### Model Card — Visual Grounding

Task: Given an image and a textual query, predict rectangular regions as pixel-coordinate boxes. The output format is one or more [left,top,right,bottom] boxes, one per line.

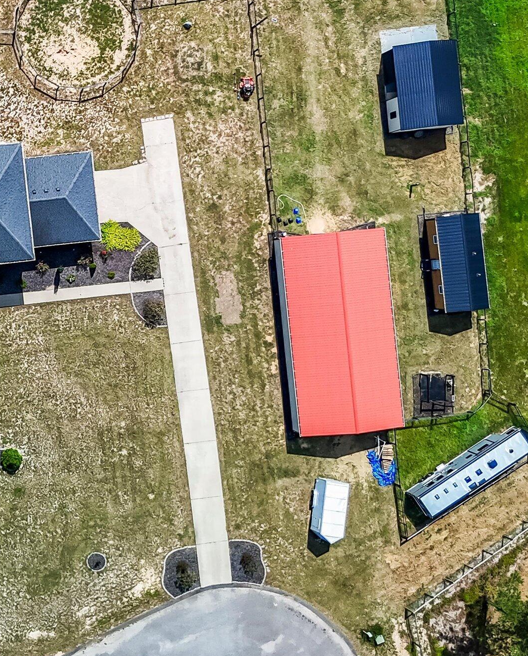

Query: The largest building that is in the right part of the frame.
[275,227,406,437]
